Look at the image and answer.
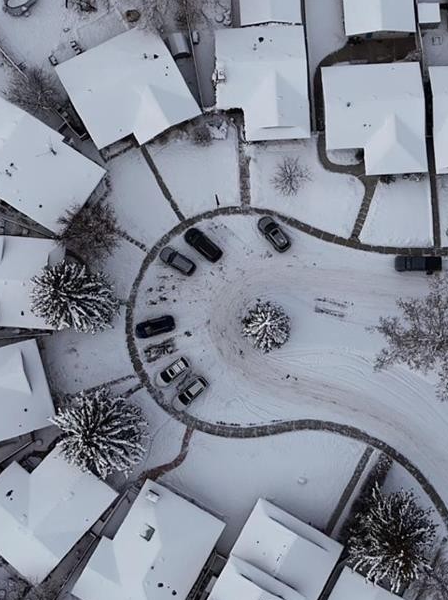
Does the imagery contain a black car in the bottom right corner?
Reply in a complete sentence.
No, looking in the bottom right corner, there is no black car.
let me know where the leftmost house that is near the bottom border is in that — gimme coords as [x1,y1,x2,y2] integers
[0,445,119,586]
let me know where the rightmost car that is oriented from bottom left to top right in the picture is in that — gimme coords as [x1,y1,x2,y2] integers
[173,376,211,409]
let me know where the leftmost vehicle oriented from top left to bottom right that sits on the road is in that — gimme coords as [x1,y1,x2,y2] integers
[159,246,195,277]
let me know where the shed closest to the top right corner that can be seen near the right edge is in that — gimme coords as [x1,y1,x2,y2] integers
[418,2,441,27]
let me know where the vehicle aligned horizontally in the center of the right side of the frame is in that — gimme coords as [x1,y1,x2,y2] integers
[395,254,444,273]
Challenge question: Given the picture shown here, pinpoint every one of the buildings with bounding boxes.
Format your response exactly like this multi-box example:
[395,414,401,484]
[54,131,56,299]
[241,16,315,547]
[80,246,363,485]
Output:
[344,0,416,36]
[209,496,344,600]
[0,445,119,586]
[213,26,310,141]
[241,0,302,26]
[428,66,448,174]
[0,236,66,329]
[0,98,107,234]
[0,339,55,440]
[71,479,226,600]
[327,562,409,600]
[321,62,428,175]
[56,28,203,150]
[418,2,441,27]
